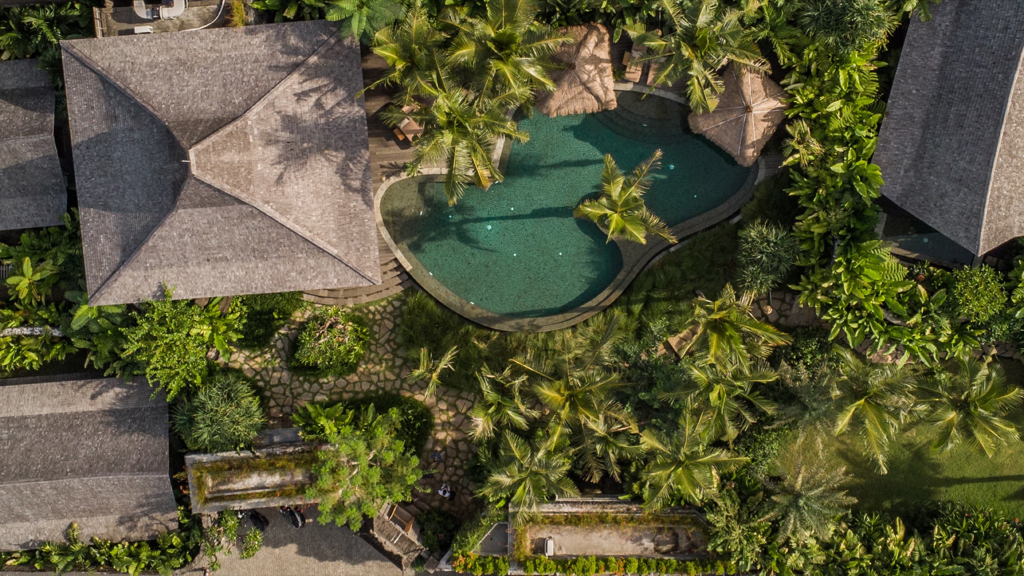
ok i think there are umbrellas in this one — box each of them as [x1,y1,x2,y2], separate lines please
[536,22,618,119]
[688,61,789,166]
